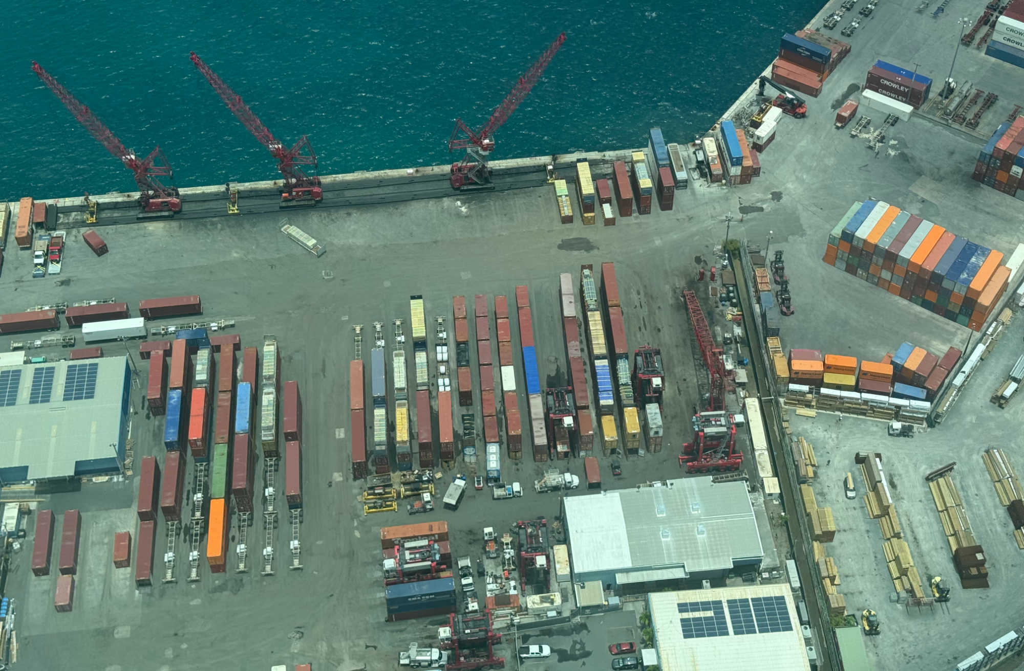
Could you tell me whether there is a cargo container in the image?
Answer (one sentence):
Yes, you can see a cargo container in this photo.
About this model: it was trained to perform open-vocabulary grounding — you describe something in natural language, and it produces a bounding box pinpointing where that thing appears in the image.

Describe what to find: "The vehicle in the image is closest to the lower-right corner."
[928,577,951,617]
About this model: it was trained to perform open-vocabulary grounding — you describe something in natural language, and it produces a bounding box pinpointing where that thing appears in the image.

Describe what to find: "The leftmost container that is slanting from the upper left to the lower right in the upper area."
[83,229,109,257]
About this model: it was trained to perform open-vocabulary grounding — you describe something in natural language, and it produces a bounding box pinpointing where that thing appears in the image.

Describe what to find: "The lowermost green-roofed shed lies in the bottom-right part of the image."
[833,626,870,671]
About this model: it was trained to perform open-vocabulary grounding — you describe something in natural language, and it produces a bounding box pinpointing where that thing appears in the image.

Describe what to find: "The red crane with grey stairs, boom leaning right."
[452,30,568,191]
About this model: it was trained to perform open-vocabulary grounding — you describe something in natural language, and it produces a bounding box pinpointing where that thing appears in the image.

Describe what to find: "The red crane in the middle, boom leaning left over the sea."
[189,49,319,206]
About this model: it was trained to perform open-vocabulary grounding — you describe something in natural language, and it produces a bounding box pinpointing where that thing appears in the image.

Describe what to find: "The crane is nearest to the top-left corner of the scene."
[30,59,177,217]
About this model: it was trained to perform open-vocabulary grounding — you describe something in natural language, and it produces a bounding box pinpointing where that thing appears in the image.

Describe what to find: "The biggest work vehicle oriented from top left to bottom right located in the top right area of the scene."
[762,78,809,116]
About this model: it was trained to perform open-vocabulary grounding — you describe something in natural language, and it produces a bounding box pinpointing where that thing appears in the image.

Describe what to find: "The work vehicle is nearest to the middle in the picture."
[543,383,576,452]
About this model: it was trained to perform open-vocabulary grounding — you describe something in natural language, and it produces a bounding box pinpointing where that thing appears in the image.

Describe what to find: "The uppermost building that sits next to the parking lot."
[563,475,763,591]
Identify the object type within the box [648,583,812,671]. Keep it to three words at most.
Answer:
shed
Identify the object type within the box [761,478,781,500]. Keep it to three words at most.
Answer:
building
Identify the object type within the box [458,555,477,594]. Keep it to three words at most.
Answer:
vehicle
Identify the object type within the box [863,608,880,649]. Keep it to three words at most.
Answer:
work vehicle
